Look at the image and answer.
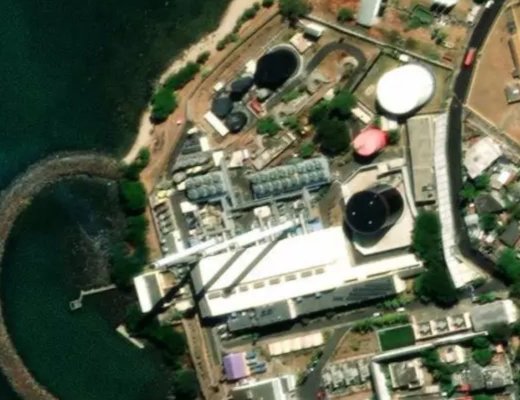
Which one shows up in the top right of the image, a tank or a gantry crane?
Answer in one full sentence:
It is a tank that can be seen in the top right of the image.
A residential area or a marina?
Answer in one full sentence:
This looks like a residential area.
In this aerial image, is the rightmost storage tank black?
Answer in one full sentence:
No, from above the rightmost storage tank looks white.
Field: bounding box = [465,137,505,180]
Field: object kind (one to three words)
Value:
house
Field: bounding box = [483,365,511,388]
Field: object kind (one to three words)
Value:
house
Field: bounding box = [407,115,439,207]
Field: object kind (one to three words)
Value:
building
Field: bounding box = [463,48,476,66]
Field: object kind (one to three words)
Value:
vehicle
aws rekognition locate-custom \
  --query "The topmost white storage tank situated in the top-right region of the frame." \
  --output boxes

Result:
[378,60,437,115]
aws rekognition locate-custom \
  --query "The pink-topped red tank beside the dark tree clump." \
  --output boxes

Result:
[354,125,389,156]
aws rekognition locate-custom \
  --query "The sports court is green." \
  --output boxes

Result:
[377,323,416,352]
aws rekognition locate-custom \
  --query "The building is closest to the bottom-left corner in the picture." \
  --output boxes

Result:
[134,271,171,313]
